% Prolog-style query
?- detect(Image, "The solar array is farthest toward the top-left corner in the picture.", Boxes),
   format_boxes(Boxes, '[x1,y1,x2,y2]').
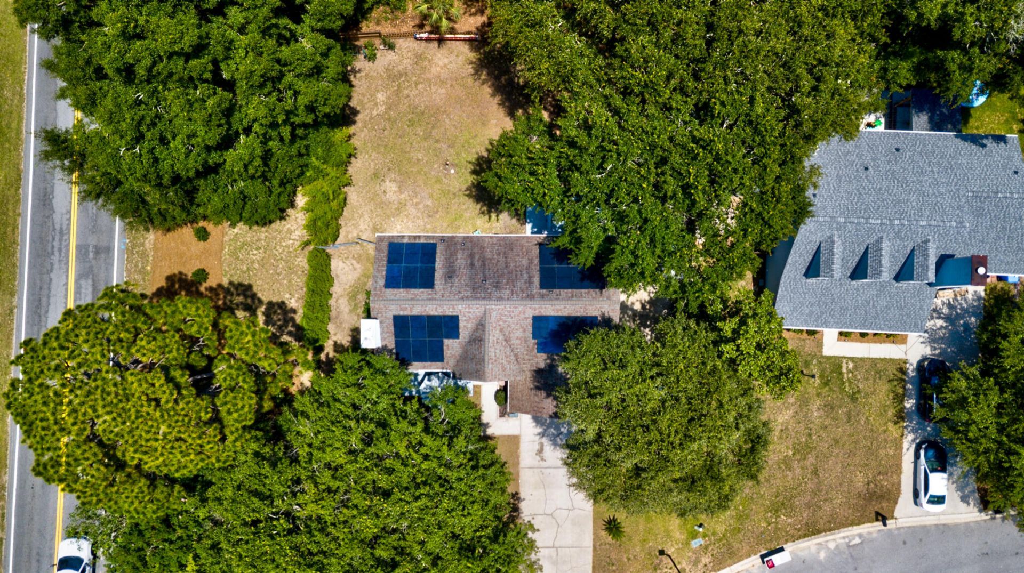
[385,242,437,288]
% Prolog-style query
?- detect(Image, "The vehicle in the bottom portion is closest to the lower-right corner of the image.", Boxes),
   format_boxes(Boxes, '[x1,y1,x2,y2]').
[911,439,950,513]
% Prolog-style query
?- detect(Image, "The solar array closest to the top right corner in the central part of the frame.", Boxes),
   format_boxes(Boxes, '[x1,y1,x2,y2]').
[539,243,606,289]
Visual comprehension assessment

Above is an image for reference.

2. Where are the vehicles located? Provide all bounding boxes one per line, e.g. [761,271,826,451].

[916,355,950,422]
[57,534,96,573]
[911,439,950,513]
